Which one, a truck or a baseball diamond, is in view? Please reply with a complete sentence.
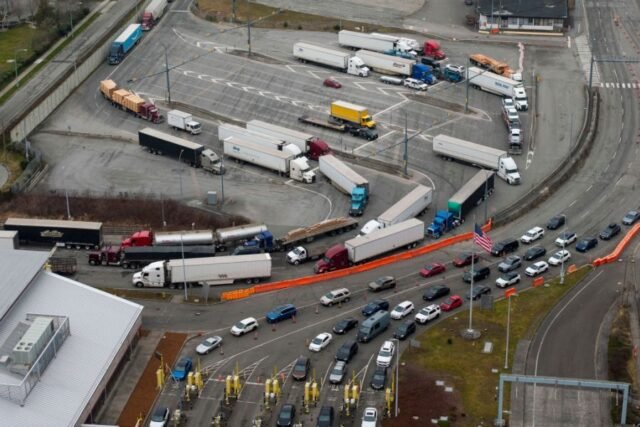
Visible in the photo is a truck.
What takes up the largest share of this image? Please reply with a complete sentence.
What you mostly see from above here is paved ground.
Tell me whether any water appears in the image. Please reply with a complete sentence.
No, the picture contains no water.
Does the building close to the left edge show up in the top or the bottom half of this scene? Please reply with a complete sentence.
The building close to the left edge is in the bottom half of the image.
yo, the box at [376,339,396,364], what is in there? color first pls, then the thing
white vehicle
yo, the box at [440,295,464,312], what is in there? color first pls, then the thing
red car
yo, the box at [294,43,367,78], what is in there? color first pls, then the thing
white truck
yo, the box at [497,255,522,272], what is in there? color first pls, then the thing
gray car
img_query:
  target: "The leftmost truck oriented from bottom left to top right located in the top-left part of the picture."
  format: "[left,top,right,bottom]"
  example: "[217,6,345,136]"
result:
[109,25,140,63]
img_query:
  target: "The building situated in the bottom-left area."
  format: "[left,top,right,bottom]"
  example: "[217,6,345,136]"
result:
[0,249,148,427]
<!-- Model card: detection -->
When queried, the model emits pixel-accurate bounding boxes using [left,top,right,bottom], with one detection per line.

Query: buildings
[0,249,148,427]
[472,0,562,31]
